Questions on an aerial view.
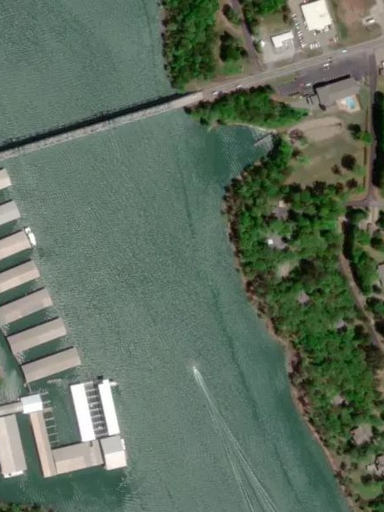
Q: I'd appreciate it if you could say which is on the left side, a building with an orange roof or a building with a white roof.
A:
building with a white roof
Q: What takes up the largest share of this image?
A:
water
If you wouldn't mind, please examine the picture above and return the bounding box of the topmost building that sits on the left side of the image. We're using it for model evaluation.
[20,393,42,413]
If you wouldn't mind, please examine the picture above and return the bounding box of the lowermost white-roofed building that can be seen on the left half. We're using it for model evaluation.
[99,433,126,471]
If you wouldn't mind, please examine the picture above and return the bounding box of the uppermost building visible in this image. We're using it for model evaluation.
[300,0,333,30]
